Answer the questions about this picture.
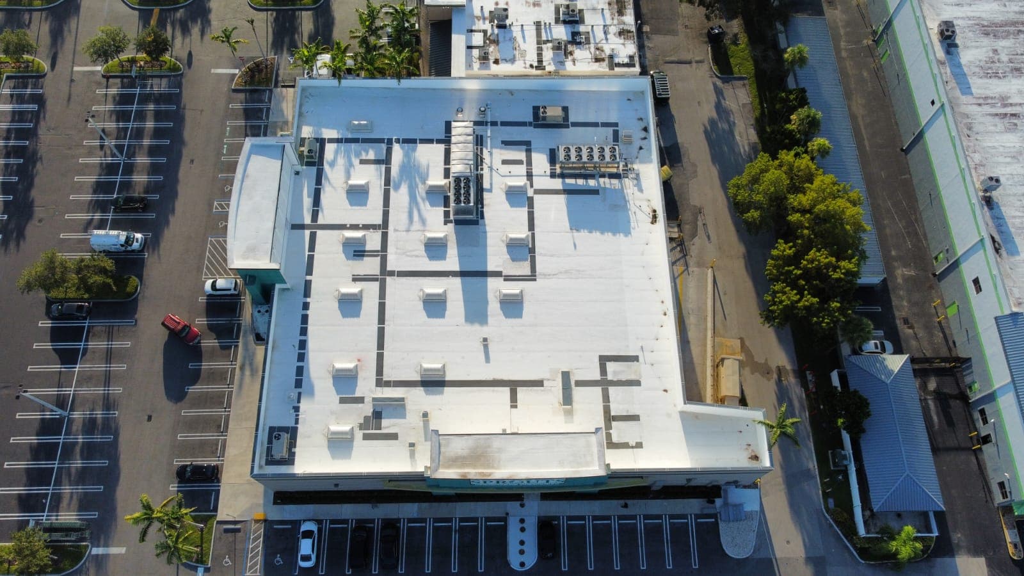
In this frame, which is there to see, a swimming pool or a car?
car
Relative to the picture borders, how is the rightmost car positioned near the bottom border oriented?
vertically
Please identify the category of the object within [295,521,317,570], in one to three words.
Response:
car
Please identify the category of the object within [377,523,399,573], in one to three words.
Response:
car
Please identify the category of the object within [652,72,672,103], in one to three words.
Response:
vehicle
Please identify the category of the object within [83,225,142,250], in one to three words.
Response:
vehicle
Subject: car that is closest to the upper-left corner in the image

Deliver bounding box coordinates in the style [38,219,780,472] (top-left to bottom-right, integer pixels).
[106,191,149,211]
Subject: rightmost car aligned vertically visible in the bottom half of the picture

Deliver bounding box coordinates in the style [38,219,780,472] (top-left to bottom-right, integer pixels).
[537,516,559,566]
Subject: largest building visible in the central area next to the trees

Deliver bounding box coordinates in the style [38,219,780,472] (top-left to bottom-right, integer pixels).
[227,78,772,496]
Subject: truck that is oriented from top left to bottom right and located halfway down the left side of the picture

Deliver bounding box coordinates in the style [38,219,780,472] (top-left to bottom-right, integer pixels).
[156,308,203,348]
